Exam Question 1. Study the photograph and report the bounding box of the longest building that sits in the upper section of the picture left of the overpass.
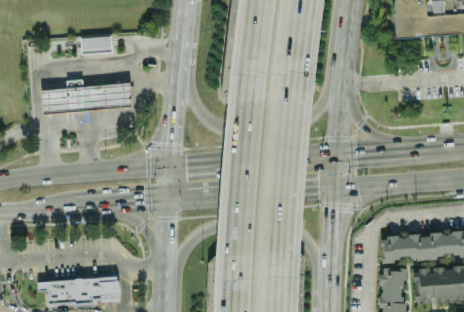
[42,79,132,116]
